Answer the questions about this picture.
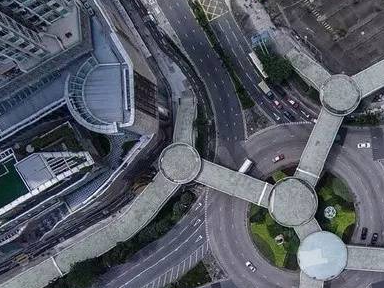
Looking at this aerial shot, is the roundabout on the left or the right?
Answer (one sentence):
It is on the right.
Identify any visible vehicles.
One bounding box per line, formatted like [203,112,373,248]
[273,154,285,162]
[245,261,256,271]
[283,111,294,122]
[246,51,270,81]
[361,227,367,240]
[238,155,258,174]
[271,98,283,109]
[359,142,371,148]
[288,98,300,109]
[371,232,377,244]
[257,80,275,101]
